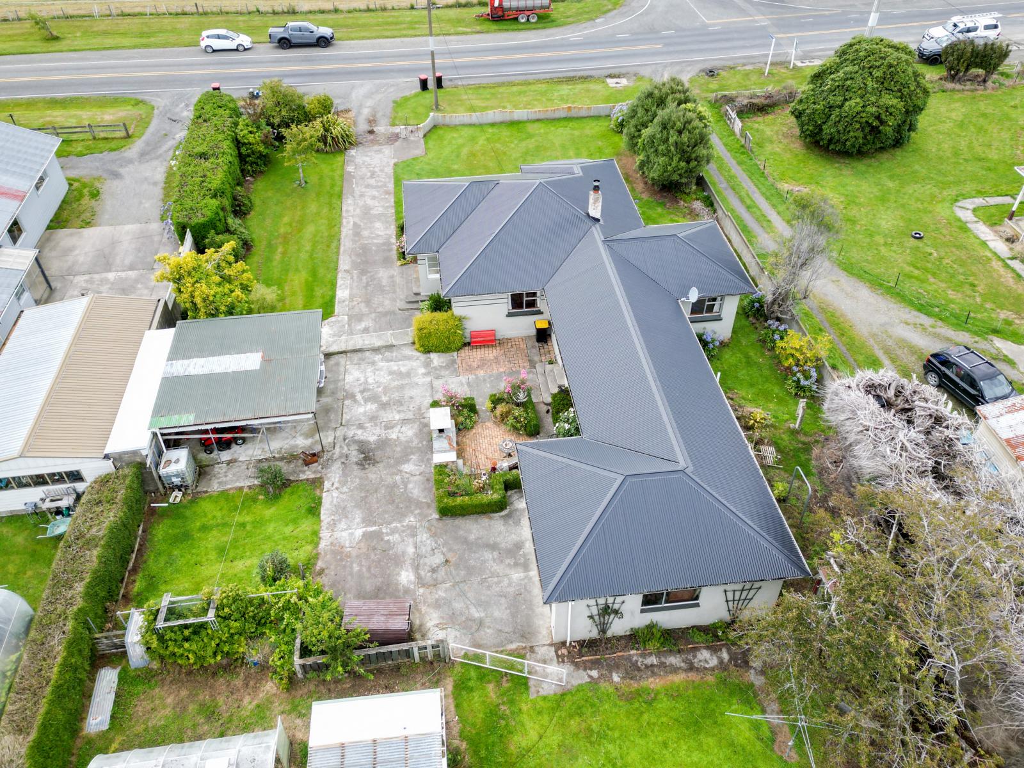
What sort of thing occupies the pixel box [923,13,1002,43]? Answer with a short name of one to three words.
truck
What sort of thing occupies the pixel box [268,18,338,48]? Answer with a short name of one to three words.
truck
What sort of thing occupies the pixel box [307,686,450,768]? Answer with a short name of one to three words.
shed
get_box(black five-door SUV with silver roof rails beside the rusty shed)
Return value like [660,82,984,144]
[917,341,1024,418]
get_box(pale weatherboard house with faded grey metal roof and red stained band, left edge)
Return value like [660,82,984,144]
[0,123,69,248]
